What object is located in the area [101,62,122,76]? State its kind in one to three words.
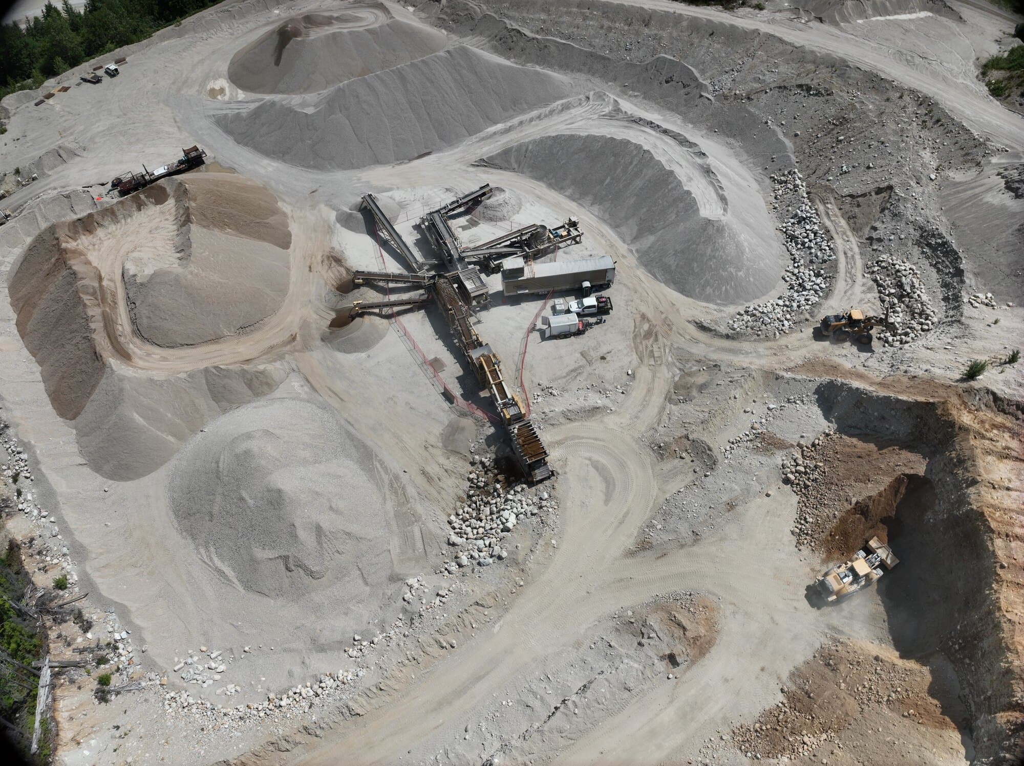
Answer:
vehicle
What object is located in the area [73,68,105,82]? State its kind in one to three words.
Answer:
vehicle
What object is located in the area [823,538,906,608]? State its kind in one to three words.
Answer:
work vehicle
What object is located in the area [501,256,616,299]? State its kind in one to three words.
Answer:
trailer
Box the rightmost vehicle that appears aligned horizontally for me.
[819,311,908,349]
